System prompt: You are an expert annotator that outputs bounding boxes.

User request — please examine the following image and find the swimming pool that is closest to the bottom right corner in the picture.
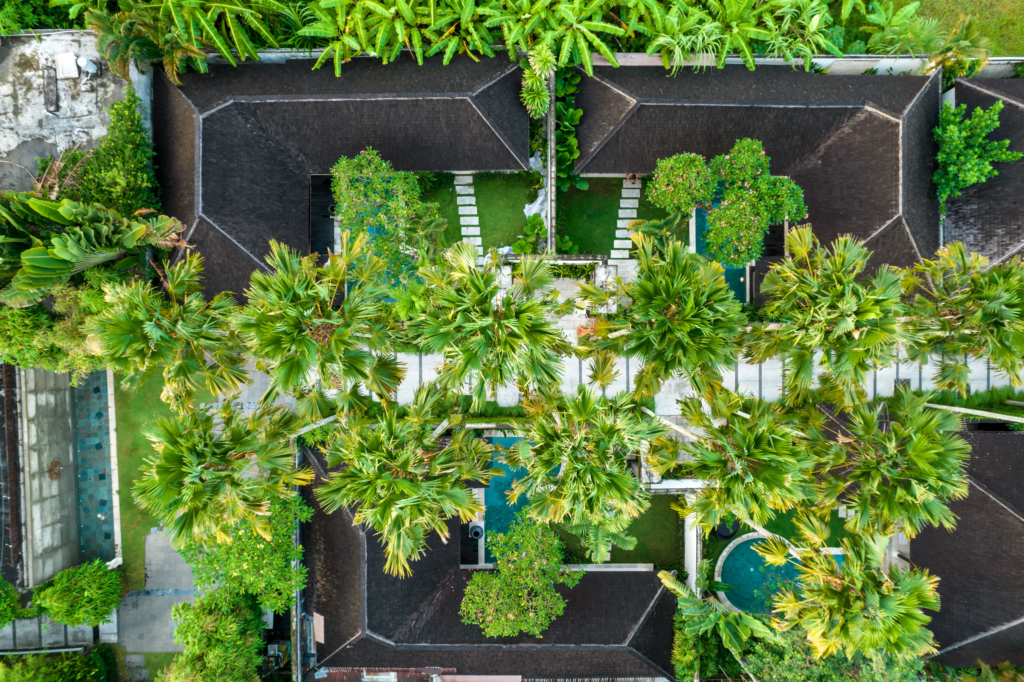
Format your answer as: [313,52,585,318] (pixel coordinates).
[715,532,853,620]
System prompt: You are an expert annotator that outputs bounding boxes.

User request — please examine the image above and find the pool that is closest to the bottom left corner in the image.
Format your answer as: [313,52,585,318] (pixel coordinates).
[74,361,121,573]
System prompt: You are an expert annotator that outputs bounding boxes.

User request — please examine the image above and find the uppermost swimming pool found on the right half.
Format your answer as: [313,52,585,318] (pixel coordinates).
[661,175,753,288]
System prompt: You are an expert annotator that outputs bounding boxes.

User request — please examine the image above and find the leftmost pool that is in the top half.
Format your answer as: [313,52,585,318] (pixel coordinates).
[340,171,436,307]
